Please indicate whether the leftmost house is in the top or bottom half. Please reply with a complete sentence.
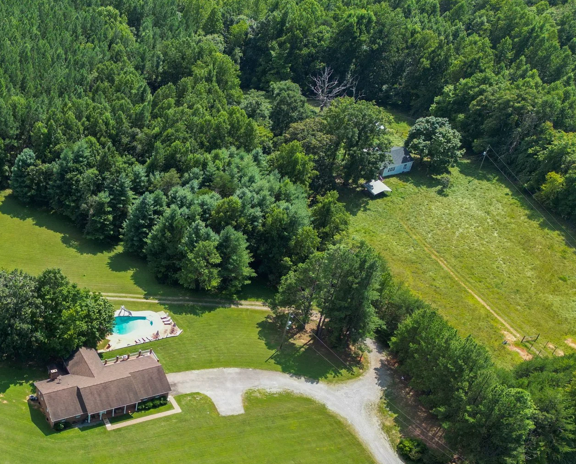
The leftmost house sits in the bottom half of the picture.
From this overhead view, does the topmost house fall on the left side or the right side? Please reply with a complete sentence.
It is on the right.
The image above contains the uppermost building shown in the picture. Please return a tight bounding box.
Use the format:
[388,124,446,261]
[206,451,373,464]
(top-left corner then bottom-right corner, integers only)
[371,146,414,176]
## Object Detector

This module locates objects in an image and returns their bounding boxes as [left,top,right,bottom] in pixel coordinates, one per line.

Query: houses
[34,346,172,431]
[371,146,414,176]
